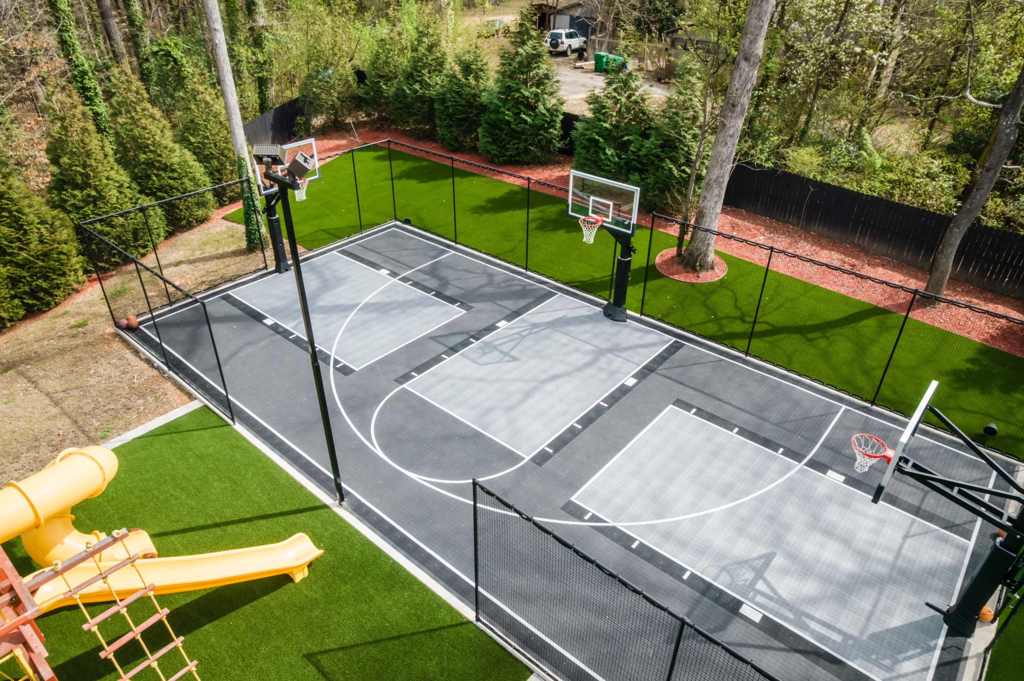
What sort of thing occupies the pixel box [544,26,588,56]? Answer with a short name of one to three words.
car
